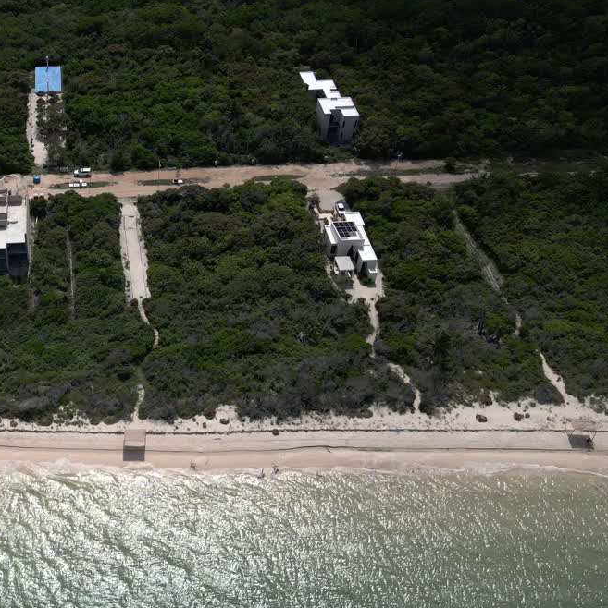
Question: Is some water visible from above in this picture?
Yes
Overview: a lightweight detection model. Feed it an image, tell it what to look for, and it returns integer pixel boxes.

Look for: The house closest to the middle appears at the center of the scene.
[319,212,378,282]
